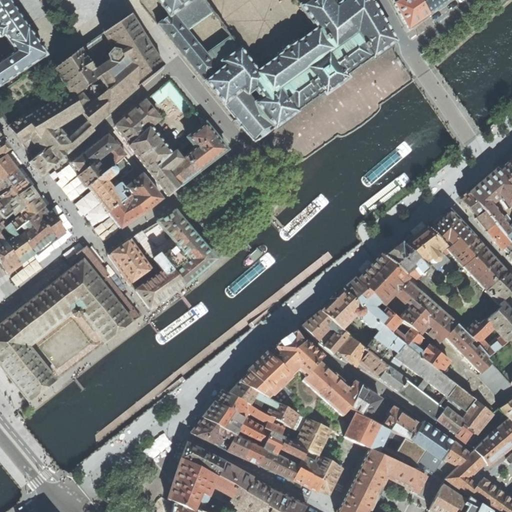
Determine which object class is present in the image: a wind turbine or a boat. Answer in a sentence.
Visible in the photo is a boat.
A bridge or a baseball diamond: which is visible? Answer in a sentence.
There is a bridge in the scene.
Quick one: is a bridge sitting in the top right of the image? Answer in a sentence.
Yes, a bridge shows up in the top right of the image.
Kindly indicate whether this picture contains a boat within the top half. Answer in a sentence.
Yes, there is a boat within the top half.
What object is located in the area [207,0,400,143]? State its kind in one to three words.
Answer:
building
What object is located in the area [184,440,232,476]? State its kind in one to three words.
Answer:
house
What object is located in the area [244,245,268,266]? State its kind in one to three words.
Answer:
boat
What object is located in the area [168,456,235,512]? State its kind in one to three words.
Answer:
house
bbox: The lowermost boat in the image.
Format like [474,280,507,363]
[157,303,208,344]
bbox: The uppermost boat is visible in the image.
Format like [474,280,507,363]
[364,142,412,185]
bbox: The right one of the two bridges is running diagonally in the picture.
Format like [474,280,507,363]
[414,66,481,146]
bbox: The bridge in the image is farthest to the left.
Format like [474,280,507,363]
[0,420,72,492]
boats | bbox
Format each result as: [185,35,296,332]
[226,254,274,296]
[360,174,410,212]
[244,245,268,266]
[157,303,208,344]
[280,196,330,239]
[364,142,412,185]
